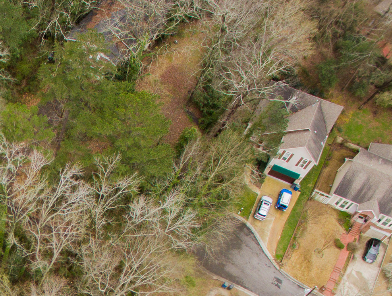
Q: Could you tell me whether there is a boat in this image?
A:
No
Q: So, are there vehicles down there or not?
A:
Yes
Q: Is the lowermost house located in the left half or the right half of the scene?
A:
right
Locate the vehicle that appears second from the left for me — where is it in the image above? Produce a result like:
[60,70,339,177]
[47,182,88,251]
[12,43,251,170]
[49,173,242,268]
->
[276,188,292,211]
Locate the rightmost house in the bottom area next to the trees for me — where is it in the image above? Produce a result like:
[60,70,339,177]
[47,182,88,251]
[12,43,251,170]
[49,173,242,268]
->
[306,131,392,235]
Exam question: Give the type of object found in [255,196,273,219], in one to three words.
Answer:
car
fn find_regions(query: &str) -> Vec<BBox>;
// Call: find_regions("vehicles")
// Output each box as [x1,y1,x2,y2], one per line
[276,188,292,211]
[255,196,273,219]
[364,239,379,262]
